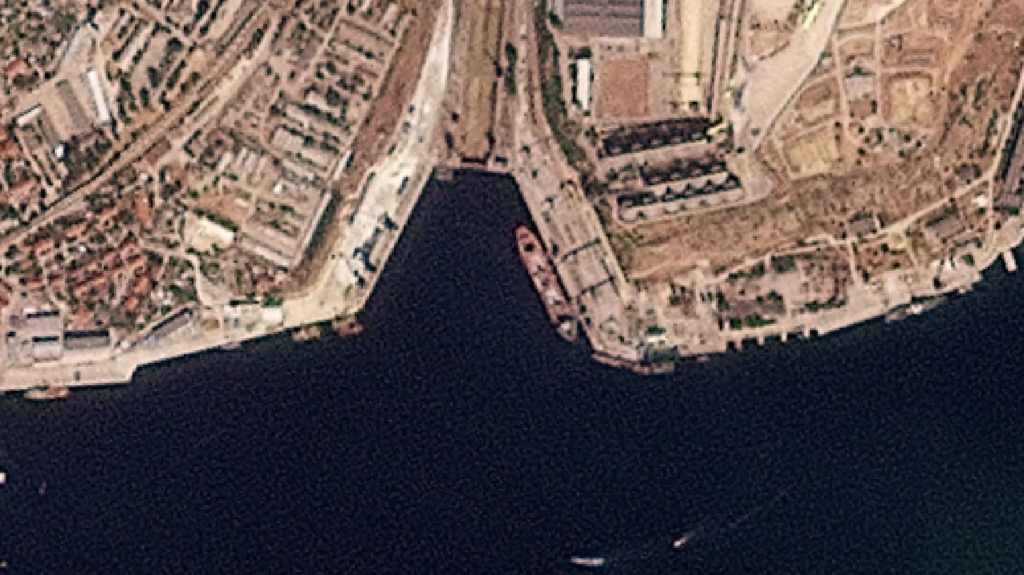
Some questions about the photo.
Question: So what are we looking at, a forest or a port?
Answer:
port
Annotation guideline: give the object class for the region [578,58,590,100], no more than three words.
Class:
building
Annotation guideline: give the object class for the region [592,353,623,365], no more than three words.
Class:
ship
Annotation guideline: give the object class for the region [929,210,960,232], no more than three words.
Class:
shed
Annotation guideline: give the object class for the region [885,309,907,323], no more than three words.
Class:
boat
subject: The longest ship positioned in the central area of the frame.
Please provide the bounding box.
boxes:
[518,226,572,326]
